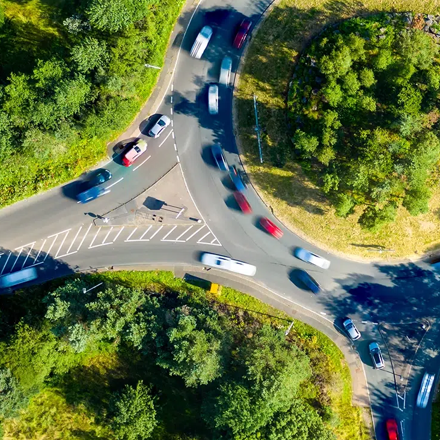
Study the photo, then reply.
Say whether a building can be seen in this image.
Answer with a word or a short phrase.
No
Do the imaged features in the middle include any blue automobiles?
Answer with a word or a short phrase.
Yes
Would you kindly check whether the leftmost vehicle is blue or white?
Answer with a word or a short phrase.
blue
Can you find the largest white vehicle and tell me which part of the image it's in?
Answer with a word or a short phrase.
center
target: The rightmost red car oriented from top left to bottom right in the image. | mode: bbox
[258,215,285,241]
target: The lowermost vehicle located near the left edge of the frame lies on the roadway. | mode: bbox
[1,267,38,289]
